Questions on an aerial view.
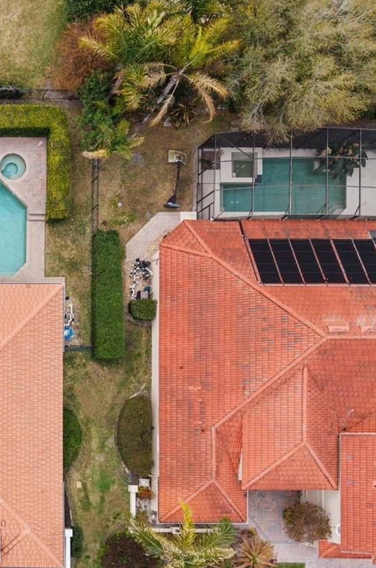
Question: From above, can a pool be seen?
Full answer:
Yes, looking at the shot, I can spot a pool.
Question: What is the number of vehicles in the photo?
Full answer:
The picture shows no vehicles.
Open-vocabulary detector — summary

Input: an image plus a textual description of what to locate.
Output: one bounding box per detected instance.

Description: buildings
[0,280,66,568]
[153,218,376,567]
